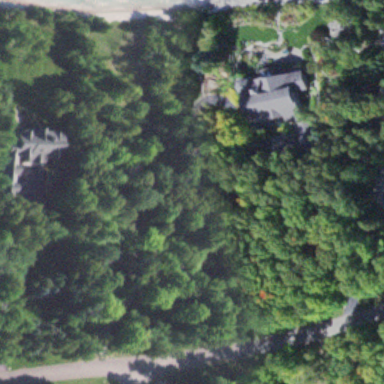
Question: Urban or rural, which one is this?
rural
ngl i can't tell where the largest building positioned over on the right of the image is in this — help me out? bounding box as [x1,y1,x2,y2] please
[244,68,310,124]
